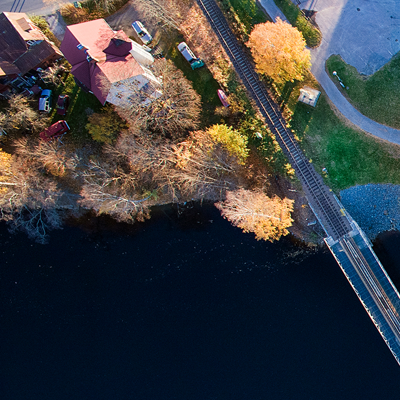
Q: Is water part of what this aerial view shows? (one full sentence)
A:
Yes, some water is visible.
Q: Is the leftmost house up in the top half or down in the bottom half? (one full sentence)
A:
Seen from above, the leftmost house lies in the top half of the view.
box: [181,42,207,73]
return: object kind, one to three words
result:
car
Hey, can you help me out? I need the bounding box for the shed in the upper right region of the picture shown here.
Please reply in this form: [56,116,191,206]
[296,86,320,108]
